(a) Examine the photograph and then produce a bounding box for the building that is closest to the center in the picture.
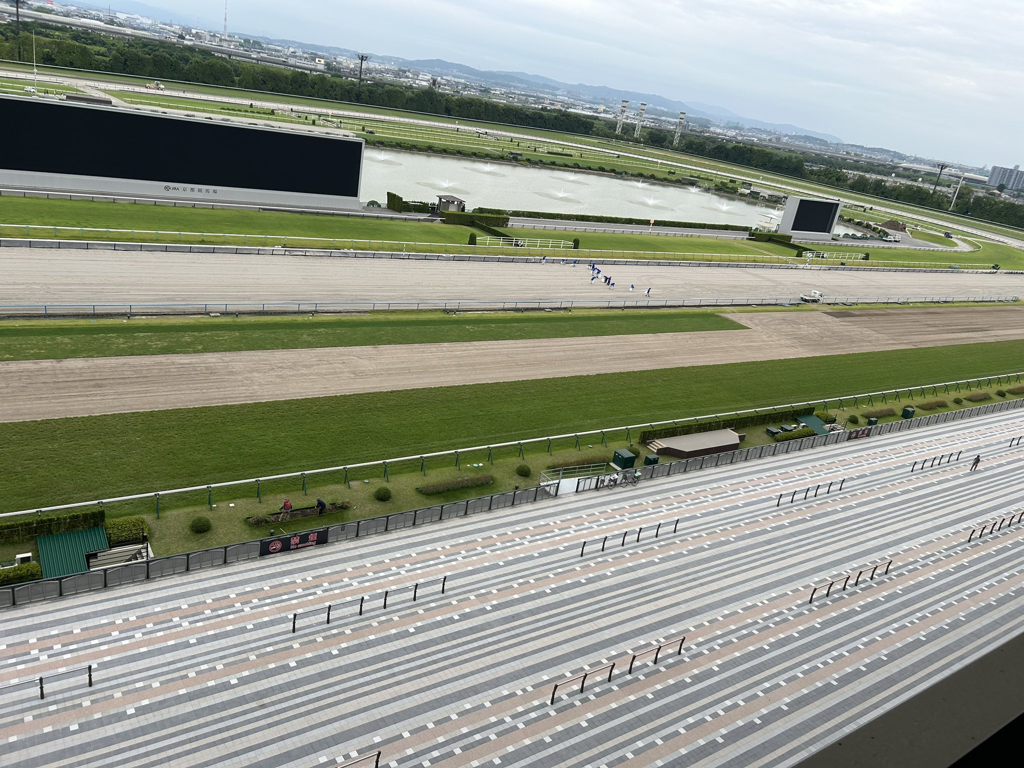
[432,191,472,209]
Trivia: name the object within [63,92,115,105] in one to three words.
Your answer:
shed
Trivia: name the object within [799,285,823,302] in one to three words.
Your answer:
vehicle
